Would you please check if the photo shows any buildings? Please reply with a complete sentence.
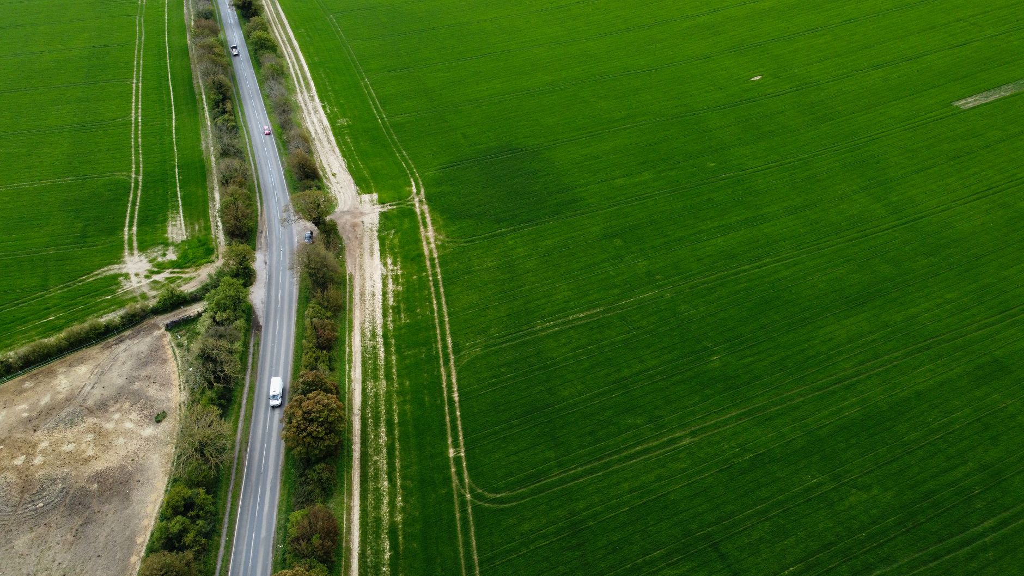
No, the picture doesn't show any building.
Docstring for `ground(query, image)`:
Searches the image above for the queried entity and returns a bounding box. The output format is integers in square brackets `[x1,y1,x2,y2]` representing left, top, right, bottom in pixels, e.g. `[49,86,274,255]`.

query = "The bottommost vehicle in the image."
[267,376,282,407]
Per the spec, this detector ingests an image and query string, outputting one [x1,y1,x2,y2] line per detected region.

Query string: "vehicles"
[262,125,269,134]
[267,376,282,407]
[232,47,239,55]
[304,231,312,243]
